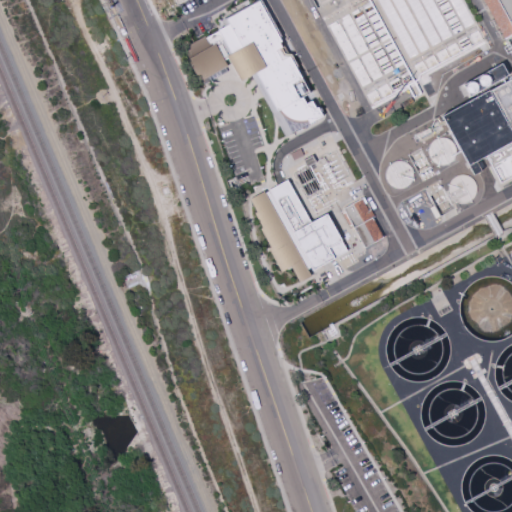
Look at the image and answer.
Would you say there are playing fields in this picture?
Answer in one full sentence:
No, there's no playing field here.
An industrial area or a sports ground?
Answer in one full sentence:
It's an industrial area.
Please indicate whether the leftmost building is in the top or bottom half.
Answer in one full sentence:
You can find the leftmost building in the top half.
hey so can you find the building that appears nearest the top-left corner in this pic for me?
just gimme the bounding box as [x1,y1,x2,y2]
[188,37,229,83]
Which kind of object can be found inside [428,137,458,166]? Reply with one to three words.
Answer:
storage tank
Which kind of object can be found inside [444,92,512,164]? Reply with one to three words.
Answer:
building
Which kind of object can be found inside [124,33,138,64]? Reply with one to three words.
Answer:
vehicle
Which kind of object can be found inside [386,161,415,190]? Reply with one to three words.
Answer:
storage tank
